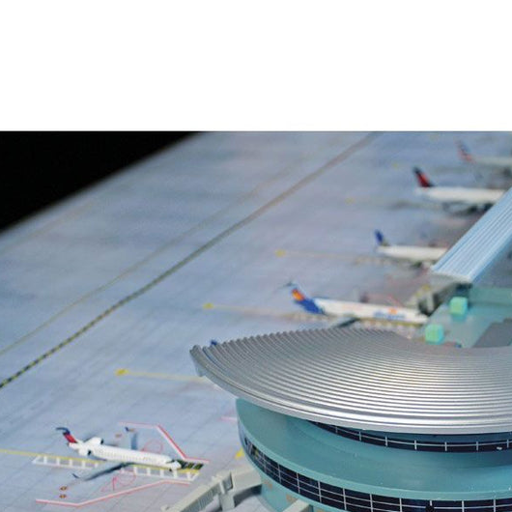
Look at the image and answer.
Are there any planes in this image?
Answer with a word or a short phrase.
Yes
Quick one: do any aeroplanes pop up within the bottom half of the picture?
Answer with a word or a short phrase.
Yes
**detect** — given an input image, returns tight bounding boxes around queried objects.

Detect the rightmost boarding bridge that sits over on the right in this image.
[407,280,459,318]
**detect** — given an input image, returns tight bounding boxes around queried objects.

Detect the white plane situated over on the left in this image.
[51,423,177,474]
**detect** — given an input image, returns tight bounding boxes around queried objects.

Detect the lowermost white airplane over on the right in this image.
[300,280,431,328]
